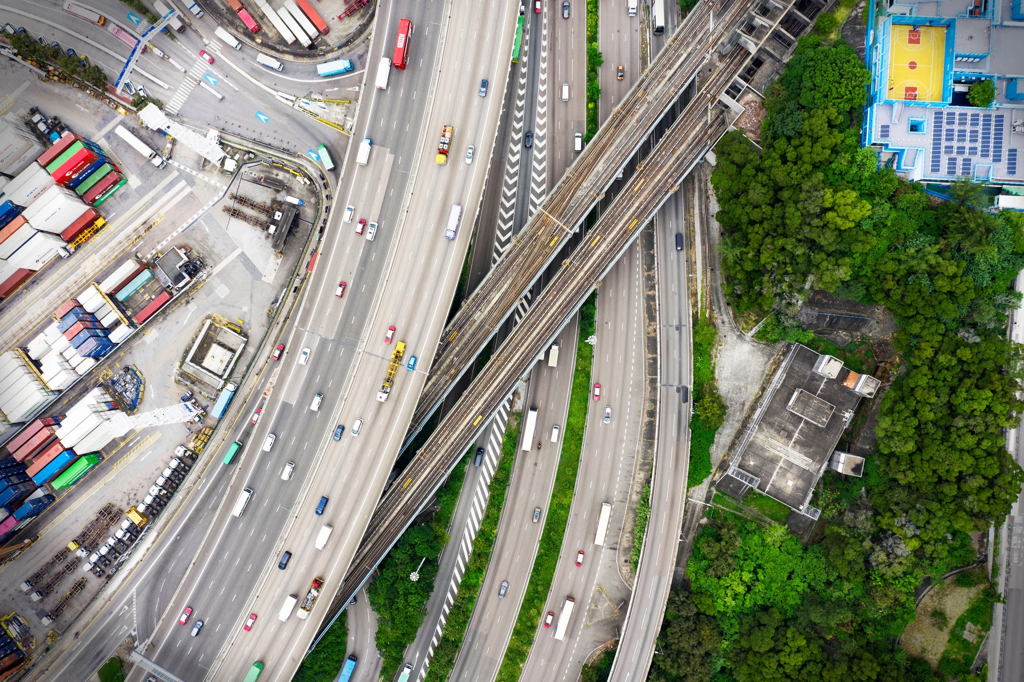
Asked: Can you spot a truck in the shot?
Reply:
Yes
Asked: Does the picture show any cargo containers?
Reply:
Yes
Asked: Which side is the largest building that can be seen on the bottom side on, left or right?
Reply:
right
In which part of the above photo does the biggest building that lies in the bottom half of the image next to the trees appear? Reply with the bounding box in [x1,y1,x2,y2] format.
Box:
[716,344,881,532]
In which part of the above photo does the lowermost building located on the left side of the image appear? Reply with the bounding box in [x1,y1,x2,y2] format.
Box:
[180,320,253,397]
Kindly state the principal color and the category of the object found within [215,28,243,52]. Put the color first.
white truck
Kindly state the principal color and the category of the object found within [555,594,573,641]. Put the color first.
white vehicle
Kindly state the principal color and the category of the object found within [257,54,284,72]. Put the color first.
white vehicle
